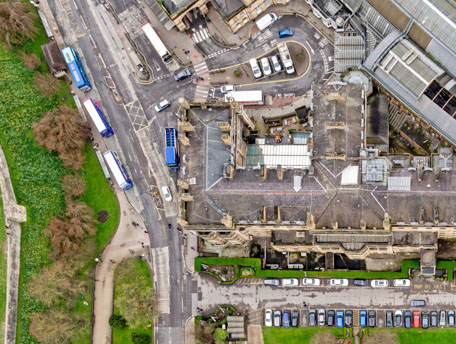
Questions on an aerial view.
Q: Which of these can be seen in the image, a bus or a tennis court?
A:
bus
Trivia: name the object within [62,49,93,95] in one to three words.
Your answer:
bus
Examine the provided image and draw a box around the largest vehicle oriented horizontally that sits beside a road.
[226,92,266,106]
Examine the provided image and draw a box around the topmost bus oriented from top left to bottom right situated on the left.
[141,22,174,66]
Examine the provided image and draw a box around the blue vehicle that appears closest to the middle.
[167,127,181,171]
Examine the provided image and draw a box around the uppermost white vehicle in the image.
[255,14,276,31]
